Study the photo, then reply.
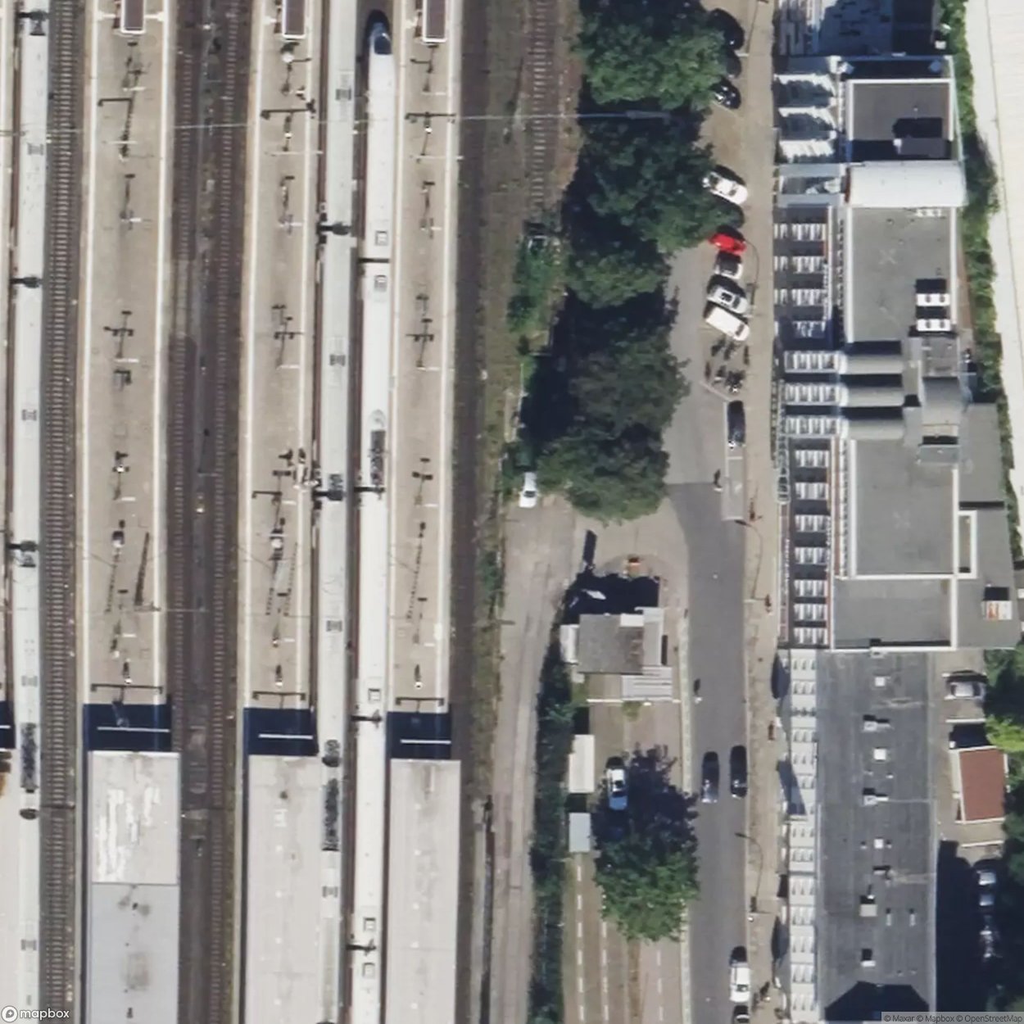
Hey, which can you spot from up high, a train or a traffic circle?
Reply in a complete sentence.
Looking from above, you can make out a train.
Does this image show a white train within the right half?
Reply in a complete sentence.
No, within the right half there is no white train.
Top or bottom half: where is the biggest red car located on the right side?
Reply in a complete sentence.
The biggest red car located on the right side sits in the top half of the picture.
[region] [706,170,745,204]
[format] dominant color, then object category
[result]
white car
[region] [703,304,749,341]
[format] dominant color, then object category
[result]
white vehicle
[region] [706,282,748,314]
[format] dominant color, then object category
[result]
white car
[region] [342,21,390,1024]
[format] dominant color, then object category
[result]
white train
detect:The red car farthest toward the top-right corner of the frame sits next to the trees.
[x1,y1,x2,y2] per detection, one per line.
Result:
[708,228,746,255]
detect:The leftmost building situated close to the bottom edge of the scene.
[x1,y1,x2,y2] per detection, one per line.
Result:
[781,650,937,1024]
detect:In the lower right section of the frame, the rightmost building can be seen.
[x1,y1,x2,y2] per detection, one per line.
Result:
[945,744,1007,824]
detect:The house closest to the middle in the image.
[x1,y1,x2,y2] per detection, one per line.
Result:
[554,608,667,679]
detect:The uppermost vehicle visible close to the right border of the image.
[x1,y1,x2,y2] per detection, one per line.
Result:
[945,678,984,698]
